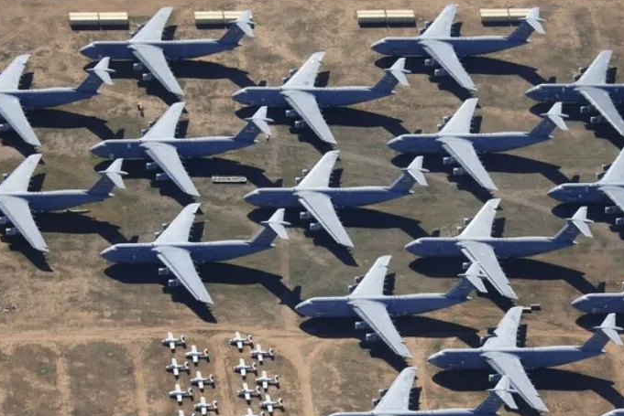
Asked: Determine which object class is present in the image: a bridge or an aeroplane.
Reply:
aeroplane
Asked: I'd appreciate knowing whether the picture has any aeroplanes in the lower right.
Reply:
Yes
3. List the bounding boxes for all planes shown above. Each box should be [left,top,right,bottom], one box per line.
[162,333,186,350]
[243,148,429,246]
[387,96,570,189]
[100,202,290,304]
[255,373,279,390]
[525,49,624,135]
[572,280,624,314]
[234,359,256,376]
[371,3,546,90]
[194,399,218,416]
[329,365,518,416]
[231,52,411,142]
[404,198,593,298]
[250,346,273,363]
[0,53,113,144]
[231,334,254,350]
[191,373,213,390]
[0,153,127,251]
[237,384,261,401]
[79,7,255,93]
[166,359,189,376]
[90,101,273,195]
[169,385,193,402]
[548,147,624,226]
[294,253,488,358]
[428,305,624,413]
[185,346,209,363]
[259,397,283,414]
